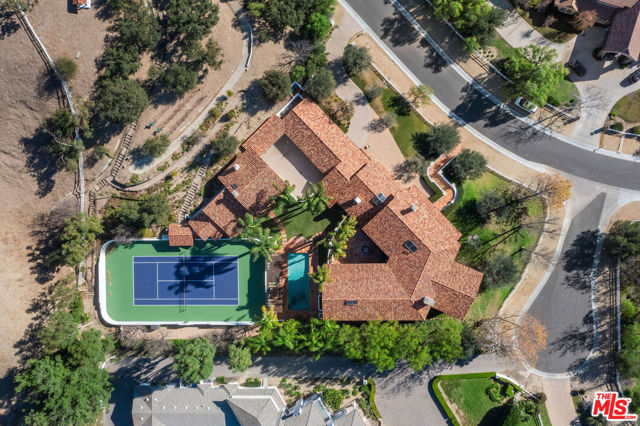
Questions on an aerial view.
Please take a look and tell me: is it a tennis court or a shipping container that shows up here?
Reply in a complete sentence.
I can see a tennis court in this picture.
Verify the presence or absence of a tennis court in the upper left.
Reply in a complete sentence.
No, looking in the upper left, there is no tennis court.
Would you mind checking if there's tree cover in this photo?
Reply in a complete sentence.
Yes, there is tree cover in the image.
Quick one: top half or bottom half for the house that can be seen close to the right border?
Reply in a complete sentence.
The house that can be seen close to the right border is in the top half of the image.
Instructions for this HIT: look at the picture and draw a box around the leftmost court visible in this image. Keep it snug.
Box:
[106,240,266,322]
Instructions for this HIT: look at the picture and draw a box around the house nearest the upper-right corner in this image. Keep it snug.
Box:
[547,0,640,61]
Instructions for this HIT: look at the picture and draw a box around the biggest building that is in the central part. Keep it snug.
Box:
[188,98,483,322]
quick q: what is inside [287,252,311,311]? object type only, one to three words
swimming pool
